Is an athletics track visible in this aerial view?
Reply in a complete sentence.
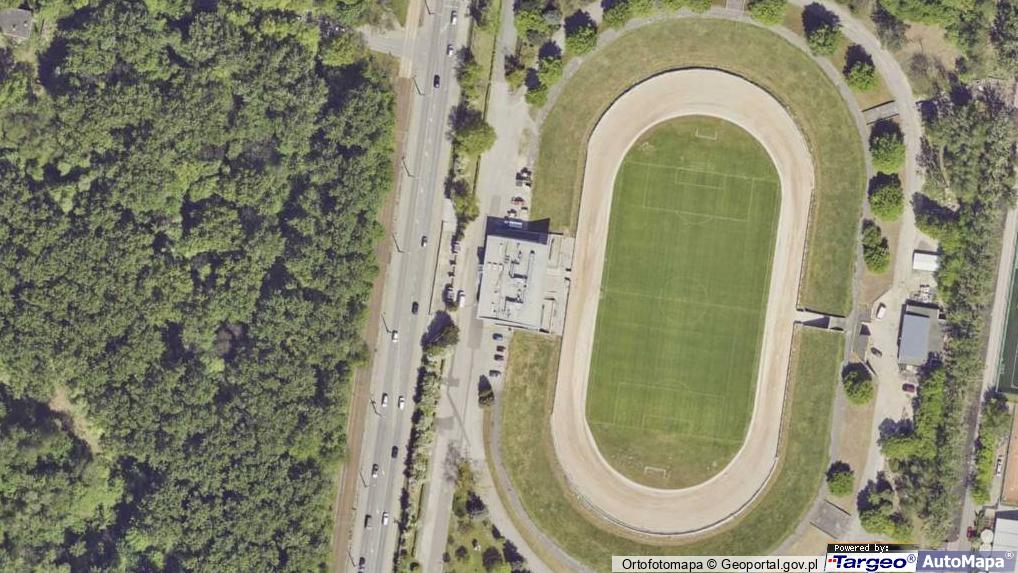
Yes, looking at the shot, I can spot an athletics track.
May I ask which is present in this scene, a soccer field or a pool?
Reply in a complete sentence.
The image shows a soccer field.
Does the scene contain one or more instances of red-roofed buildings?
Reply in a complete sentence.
No, there isn't any red-roofed building down there.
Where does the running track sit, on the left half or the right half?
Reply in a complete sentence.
It is on the right.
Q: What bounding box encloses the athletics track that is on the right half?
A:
[551,67,814,537]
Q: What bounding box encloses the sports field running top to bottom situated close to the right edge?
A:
[996,258,1018,393]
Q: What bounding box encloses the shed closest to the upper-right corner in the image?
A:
[913,252,939,272]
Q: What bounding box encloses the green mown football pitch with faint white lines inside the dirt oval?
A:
[586,115,781,488]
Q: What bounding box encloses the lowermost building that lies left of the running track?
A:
[477,234,546,329]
